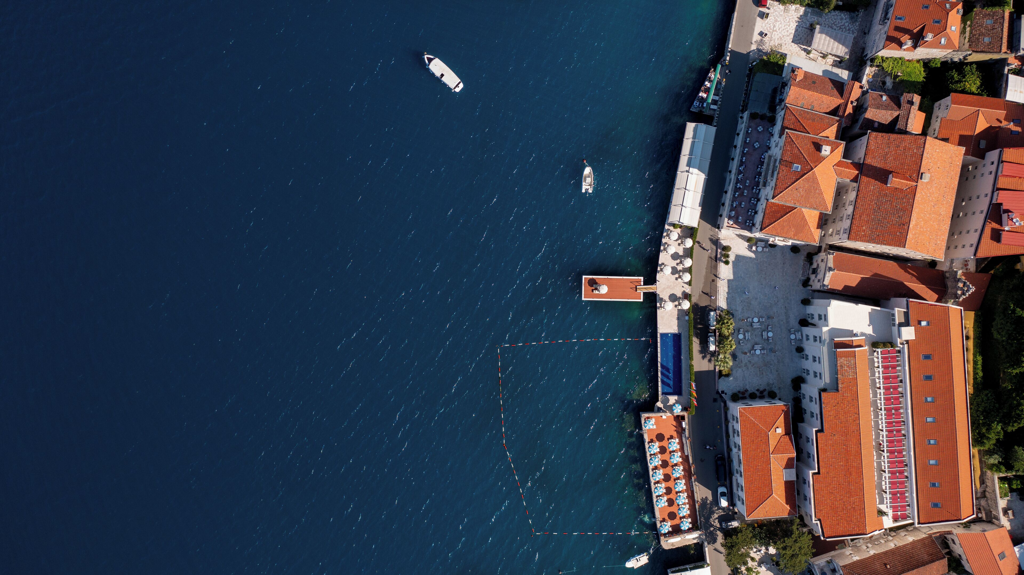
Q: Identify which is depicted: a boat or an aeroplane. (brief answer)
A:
boat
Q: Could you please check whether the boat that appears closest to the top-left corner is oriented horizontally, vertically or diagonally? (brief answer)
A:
diagonally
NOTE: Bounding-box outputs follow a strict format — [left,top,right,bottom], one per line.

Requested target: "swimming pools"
[659,330,683,396]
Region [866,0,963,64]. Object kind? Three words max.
house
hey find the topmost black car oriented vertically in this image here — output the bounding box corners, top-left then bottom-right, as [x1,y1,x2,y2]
[715,452,727,476]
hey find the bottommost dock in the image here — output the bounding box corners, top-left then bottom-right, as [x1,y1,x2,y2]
[640,413,701,536]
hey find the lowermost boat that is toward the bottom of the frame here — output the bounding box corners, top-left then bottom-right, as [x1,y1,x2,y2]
[625,553,649,569]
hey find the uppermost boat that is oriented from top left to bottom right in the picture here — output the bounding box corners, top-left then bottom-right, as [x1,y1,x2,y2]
[424,55,465,95]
